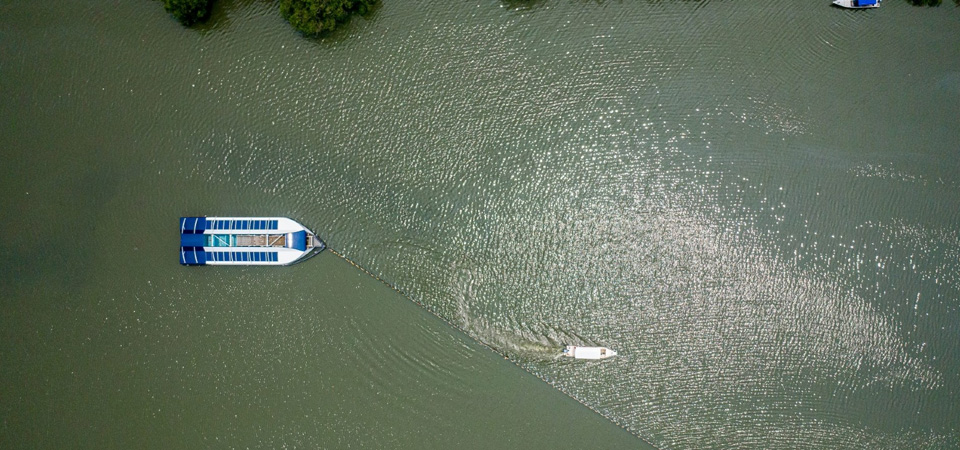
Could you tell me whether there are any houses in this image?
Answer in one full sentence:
No, no house is visible in the scene.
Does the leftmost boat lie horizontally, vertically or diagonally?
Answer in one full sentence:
I'd say the leftmost boat is aligned horizontally in the picture.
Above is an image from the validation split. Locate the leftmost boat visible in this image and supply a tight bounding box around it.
[178,216,325,266]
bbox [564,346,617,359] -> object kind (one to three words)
boat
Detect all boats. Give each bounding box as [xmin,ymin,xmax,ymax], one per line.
[832,0,880,8]
[564,346,617,359]
[178,216,325,266]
